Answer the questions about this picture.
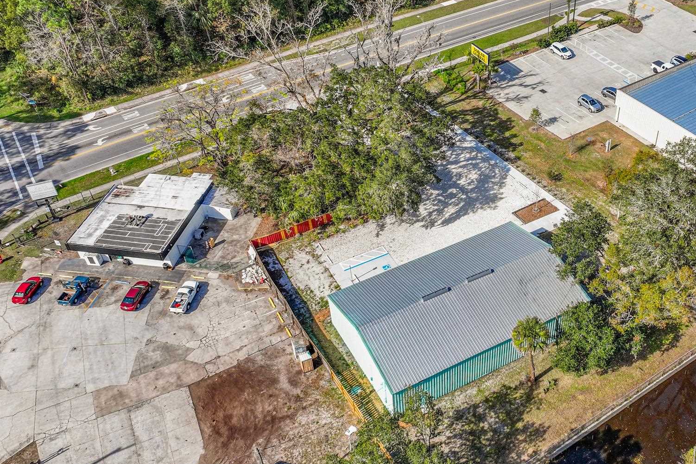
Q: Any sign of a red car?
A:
Yes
